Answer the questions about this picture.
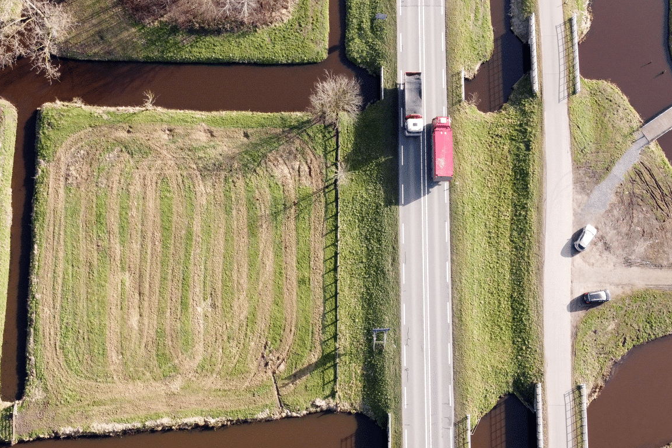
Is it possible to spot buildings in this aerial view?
No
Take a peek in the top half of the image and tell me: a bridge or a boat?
bridge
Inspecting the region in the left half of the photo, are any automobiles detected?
No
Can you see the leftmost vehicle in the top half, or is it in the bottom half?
top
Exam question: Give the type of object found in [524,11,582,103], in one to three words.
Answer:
bridge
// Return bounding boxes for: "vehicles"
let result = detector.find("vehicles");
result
[432,118,454,182]
[581,289,612,305]
[574,224,597,251]
[404,71,424,137]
